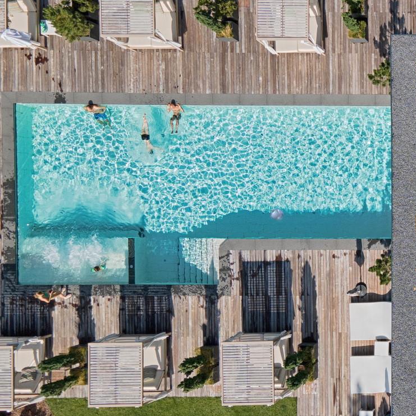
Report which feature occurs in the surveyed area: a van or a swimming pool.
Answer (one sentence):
The one in the frame is a swimming pool.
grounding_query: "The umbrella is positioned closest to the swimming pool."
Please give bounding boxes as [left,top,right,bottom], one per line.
[349,284,367,298]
